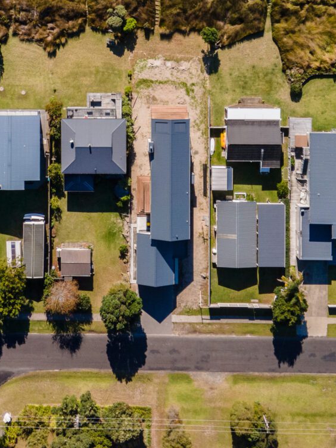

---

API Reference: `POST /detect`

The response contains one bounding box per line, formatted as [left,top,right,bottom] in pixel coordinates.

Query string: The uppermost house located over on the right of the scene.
[225,98,285,174]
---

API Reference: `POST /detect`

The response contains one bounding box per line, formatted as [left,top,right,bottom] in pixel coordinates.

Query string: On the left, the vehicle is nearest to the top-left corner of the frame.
[27,207,41,220]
